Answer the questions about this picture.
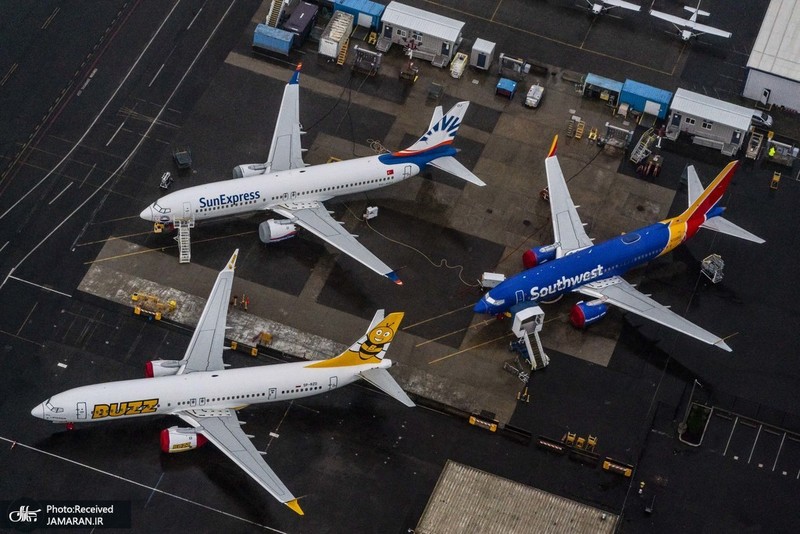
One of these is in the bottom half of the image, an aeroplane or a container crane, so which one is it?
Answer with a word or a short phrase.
aeroplane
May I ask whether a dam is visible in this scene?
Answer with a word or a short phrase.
No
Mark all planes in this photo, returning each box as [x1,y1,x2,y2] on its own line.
[141,65,486,287]
[587,0,642,20]
[649,0,733,47]
[32,251,415,516]
[473,136,765,353]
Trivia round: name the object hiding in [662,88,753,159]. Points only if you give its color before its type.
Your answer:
white trailer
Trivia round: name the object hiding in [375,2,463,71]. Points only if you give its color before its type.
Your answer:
white trailer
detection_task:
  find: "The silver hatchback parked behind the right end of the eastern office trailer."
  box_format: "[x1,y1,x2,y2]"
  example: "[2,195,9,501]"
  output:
[746,107,777,130]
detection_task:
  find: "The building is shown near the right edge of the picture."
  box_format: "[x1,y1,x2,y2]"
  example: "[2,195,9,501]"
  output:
[735,0,800,107]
